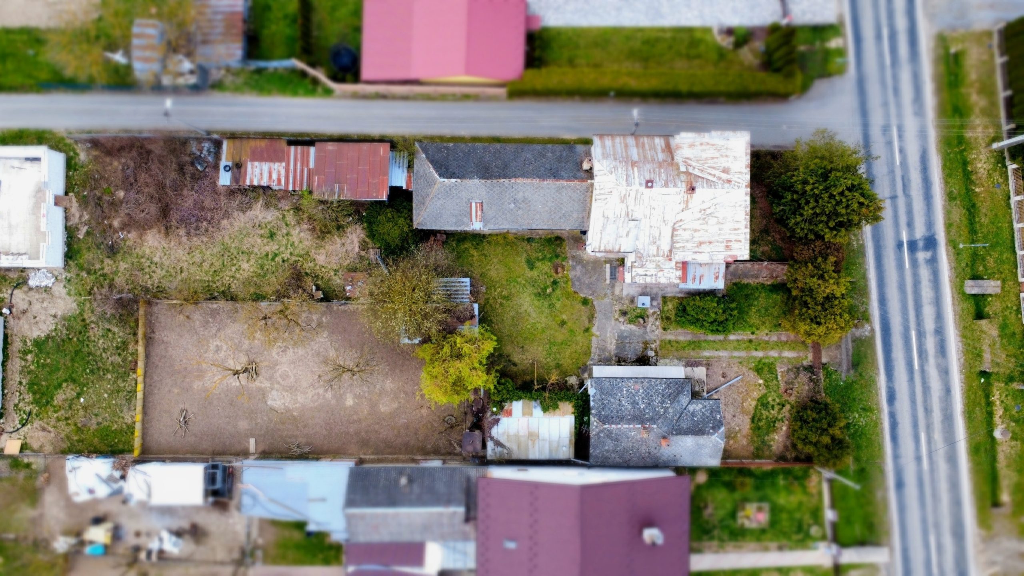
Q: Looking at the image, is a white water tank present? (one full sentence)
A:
No, this view has no white water tank in it.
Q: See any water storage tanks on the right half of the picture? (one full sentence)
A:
No, no water storage tank is visible on the right half of the picture.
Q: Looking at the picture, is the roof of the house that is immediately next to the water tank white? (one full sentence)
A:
No, the color of the roof of the house that is immediately next to the water tank is pink.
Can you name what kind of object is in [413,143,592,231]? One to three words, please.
house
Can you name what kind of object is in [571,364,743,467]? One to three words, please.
house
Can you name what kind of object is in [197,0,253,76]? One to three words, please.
shed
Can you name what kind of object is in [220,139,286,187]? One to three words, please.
shed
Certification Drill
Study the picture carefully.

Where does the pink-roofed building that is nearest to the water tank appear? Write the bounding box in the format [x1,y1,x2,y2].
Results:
[360,0,541,91]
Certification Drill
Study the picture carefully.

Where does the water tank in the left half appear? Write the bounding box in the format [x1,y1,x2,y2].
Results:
[330,46,358,75]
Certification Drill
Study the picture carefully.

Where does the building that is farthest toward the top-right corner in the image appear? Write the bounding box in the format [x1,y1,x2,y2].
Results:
[586,127,750,289]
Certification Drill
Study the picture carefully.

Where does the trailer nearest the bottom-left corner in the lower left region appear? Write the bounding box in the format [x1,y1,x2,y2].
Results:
[148,461,213,505]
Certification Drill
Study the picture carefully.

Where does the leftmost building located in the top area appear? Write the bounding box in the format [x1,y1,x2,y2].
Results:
[0,146,67,267]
